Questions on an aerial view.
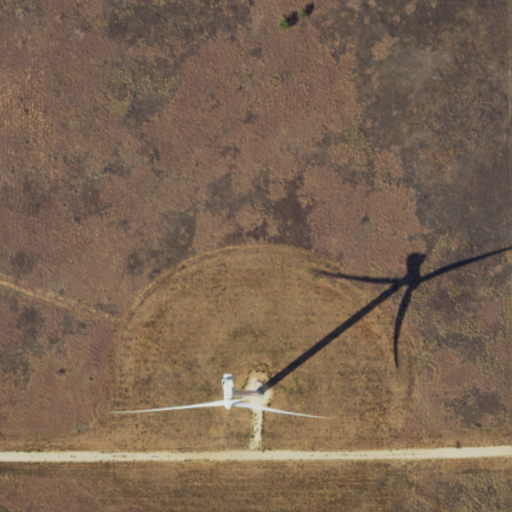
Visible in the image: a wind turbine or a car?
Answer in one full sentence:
I can see a wind turbine in this picture.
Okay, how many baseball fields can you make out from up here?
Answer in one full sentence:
No baseball fields are visible.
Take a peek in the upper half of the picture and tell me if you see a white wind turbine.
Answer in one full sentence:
No, no white wind turbine is visible in the upper half of the picture.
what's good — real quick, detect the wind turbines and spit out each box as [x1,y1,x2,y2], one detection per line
[106,374,324,420]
